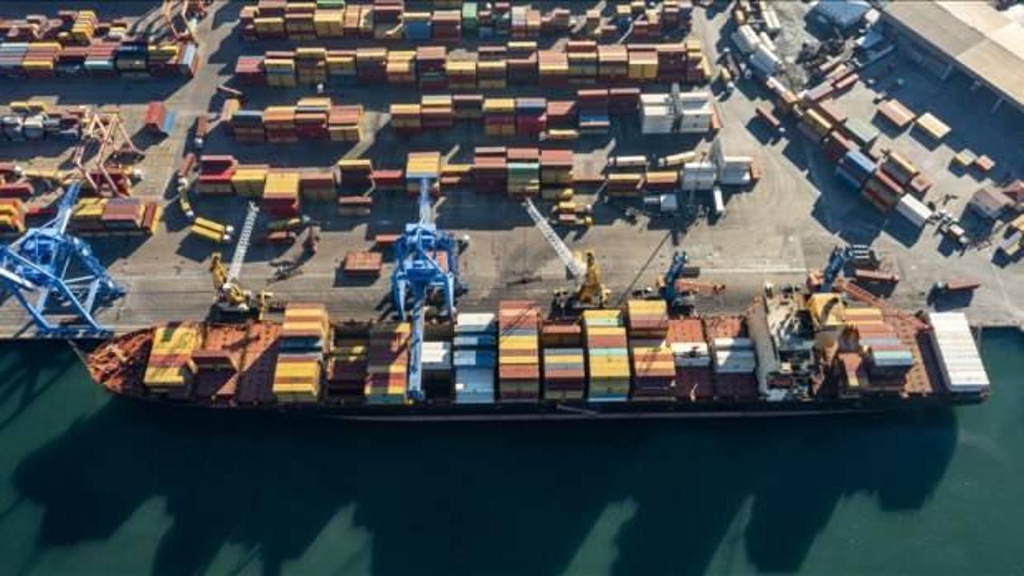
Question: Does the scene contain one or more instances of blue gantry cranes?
Yes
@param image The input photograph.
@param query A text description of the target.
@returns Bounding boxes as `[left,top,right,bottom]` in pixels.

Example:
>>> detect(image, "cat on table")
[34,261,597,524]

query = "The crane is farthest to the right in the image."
[800,244,929,328]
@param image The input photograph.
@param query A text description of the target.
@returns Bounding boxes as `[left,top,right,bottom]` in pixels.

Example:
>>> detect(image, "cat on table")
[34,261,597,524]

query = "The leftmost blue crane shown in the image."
[0,180,134,332]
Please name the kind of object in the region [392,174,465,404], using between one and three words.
container crane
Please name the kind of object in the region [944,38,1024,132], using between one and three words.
building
